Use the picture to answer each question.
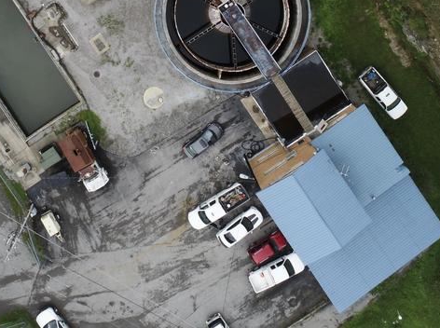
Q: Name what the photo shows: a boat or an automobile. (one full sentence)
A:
The one in the frame is an automobile.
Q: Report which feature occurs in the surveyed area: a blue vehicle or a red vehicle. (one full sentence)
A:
Of the two, only a red vehicle appears.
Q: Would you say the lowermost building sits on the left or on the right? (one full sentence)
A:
The lowermost building is on the right side of the image.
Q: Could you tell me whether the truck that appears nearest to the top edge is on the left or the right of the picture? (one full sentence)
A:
The truck that appears nearest to the top edge sits on the right side.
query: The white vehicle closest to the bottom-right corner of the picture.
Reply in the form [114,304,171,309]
[244,248,307,294]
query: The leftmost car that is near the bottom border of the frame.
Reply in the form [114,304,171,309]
[37,305,66,328]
